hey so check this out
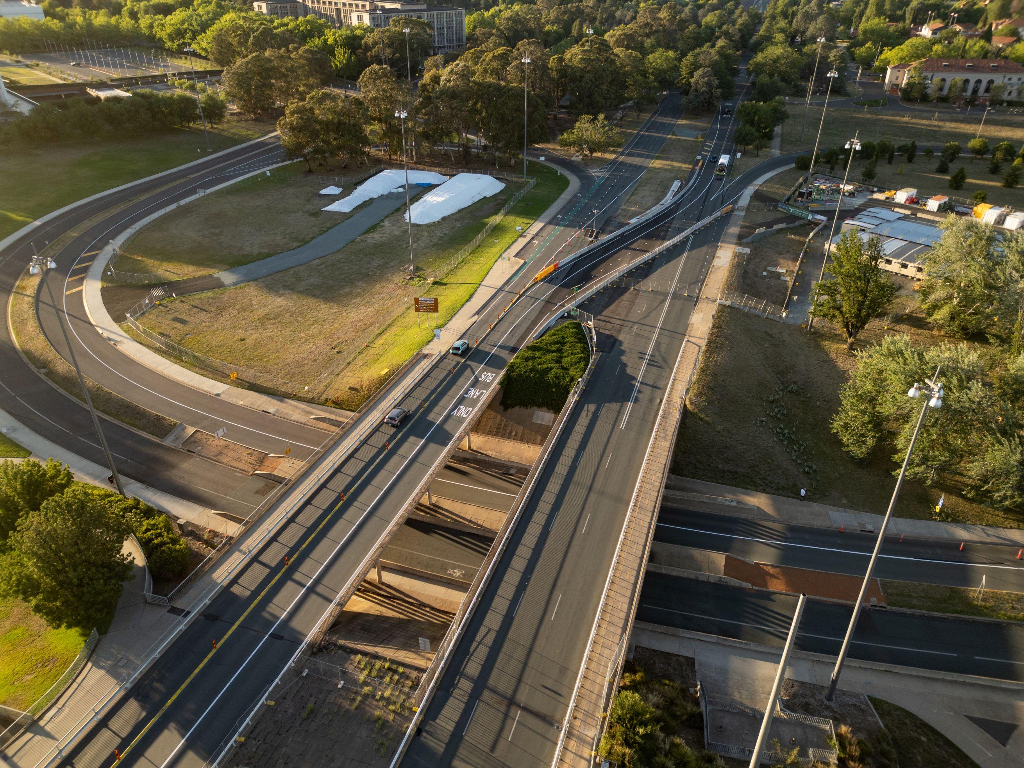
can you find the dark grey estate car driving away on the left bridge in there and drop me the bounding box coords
[383,405,411,427]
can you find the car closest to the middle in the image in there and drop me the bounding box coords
[451,340,471,355]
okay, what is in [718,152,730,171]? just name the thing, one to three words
vehicle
